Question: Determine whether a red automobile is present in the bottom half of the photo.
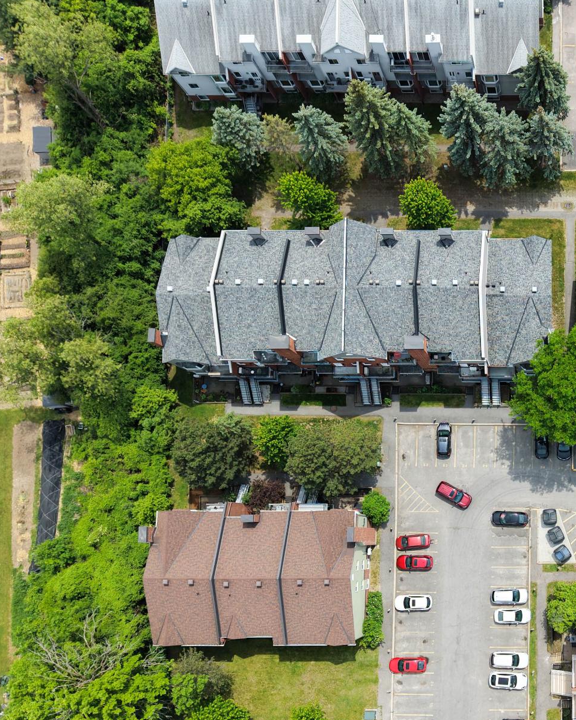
Yes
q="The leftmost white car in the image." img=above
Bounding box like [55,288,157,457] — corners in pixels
[396,595,431,612]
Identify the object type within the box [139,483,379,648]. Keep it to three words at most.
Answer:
building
